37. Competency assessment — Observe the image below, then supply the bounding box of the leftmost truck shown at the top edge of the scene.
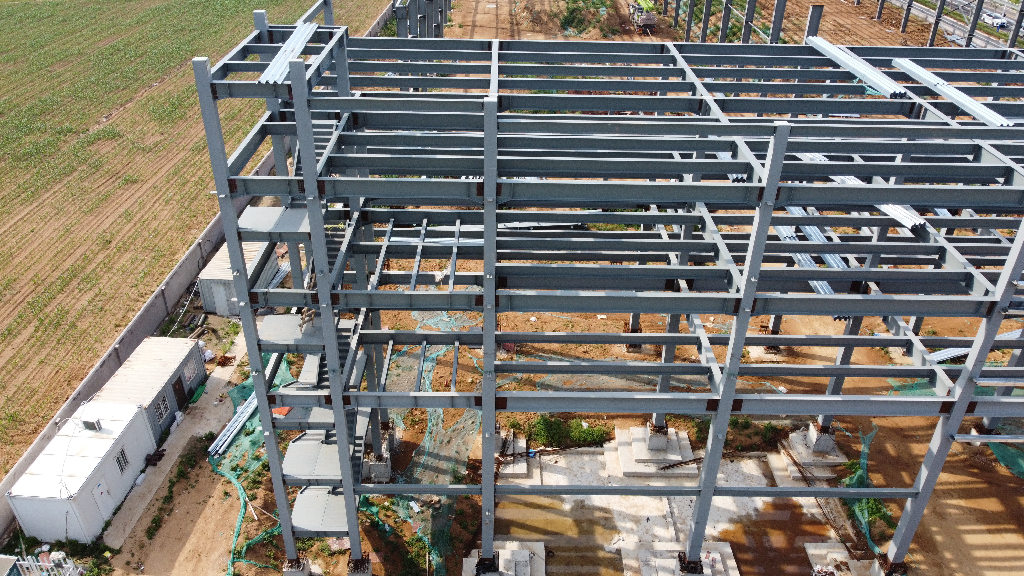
[619,0,650,29]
